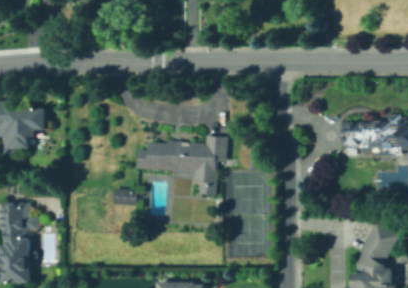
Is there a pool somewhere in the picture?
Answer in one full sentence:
Yes, the frame does contain a pool.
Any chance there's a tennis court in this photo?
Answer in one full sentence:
Yes, a tennis court is visible in the scene.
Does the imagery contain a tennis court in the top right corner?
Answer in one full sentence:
No, there is no tennis court in the top right corner.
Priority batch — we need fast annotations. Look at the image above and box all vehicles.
[352,240,362,248]
[306,164,314,176]
[324,116,335,126]
[219,114,225,128]
[214,120,219,132]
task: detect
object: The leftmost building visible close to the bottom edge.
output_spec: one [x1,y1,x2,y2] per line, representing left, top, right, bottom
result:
[0,203,38,284]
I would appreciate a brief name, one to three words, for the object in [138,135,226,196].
house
